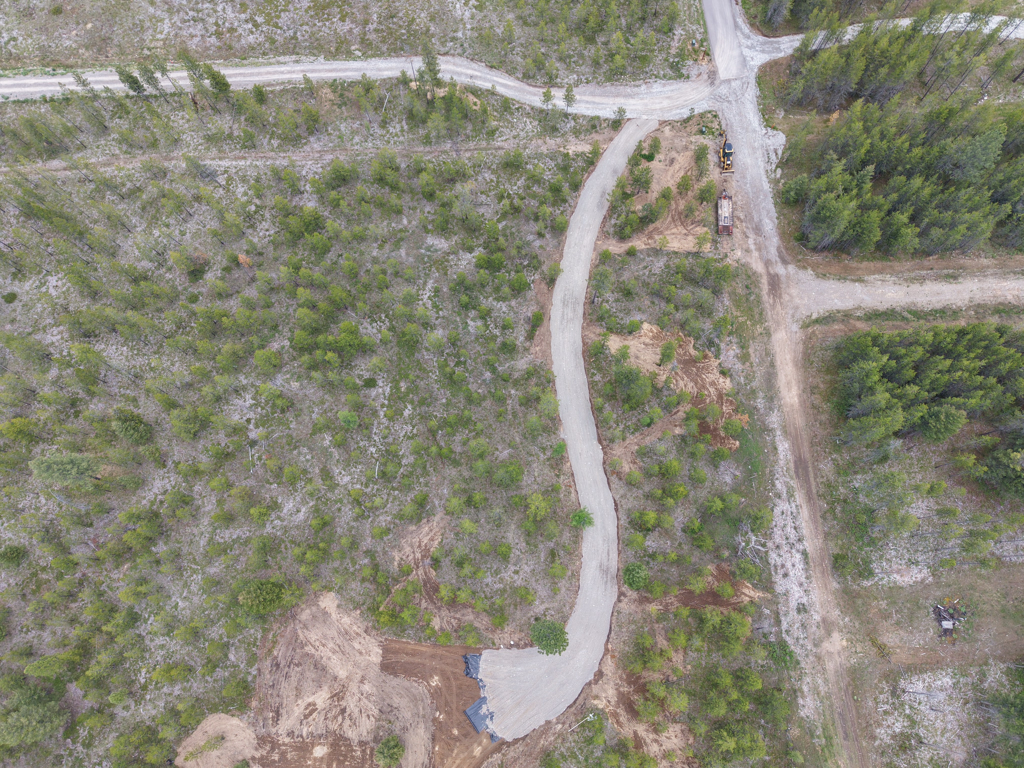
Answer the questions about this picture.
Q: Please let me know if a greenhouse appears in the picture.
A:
No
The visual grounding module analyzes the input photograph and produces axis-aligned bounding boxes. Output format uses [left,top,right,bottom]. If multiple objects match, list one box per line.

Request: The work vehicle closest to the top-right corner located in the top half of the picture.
[717,130,736,179]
